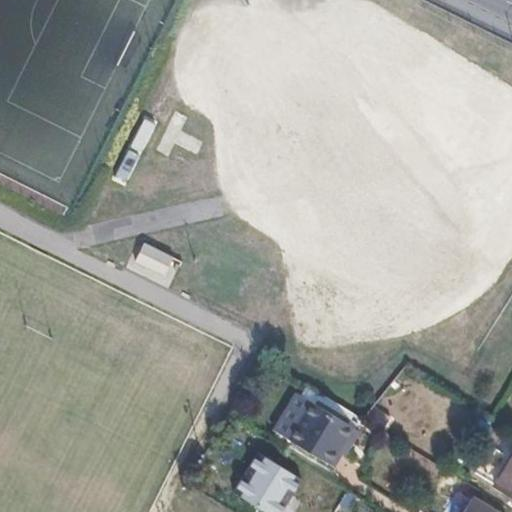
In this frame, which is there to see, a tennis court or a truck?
truck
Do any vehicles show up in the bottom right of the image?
No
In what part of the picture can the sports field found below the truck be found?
bottom left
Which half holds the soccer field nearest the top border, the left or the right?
left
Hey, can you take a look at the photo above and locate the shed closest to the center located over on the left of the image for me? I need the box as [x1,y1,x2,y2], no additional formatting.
[127,244,182,288]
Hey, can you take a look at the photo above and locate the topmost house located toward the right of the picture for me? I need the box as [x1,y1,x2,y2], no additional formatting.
[272,388,357,467]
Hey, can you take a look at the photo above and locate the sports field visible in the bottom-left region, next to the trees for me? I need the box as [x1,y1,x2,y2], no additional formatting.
[0,237,236,512]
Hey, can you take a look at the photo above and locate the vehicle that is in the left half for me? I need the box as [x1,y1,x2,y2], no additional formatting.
[112,117,158,185]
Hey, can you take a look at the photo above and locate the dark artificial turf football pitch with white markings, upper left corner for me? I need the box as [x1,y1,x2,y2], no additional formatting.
[0,0,182,208]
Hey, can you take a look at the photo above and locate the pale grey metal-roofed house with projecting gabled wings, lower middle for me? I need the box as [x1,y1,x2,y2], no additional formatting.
[236,458,302,512]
